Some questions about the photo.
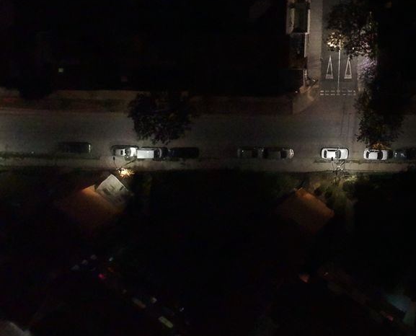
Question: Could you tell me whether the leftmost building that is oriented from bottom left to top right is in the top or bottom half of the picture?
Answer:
bottom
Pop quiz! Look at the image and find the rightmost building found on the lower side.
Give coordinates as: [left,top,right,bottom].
[204,185,337,336]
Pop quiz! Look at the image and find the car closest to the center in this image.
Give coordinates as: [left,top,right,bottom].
[169,148,197,161]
